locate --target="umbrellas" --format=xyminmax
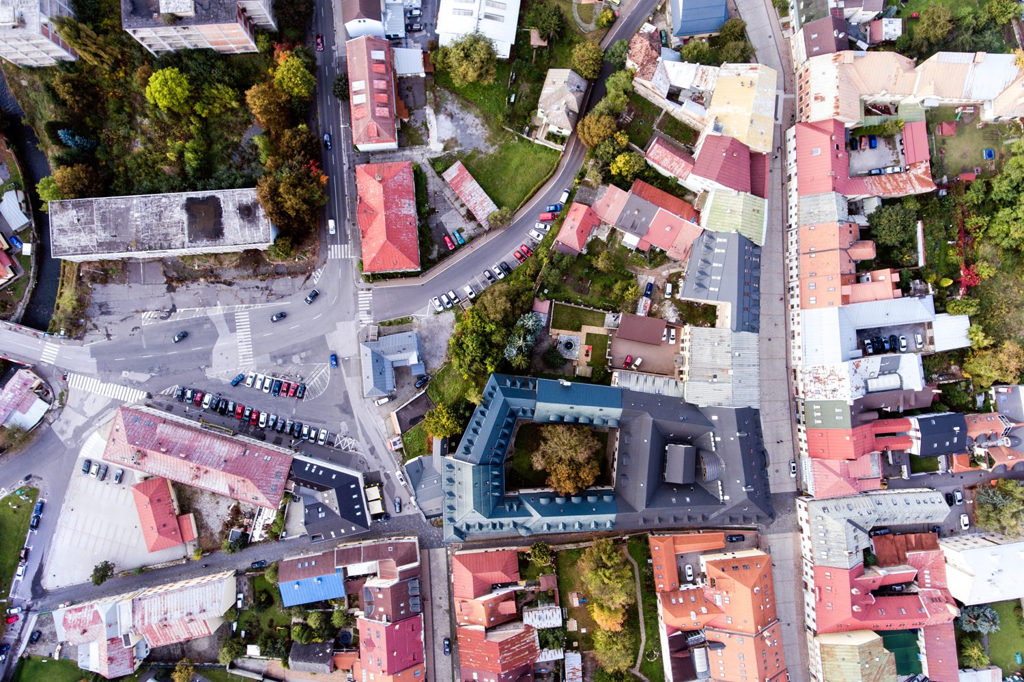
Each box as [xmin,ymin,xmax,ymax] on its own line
[365,486,381,501]
[368,499,384,515]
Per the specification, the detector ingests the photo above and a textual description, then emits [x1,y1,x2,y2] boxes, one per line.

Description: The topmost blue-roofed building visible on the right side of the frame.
[667,0,730,46]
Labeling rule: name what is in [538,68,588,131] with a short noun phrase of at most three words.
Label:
house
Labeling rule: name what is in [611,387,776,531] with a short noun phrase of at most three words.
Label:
building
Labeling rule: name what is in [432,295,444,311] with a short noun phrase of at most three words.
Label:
vehicle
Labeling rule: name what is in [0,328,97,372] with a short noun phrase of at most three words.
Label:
bridge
